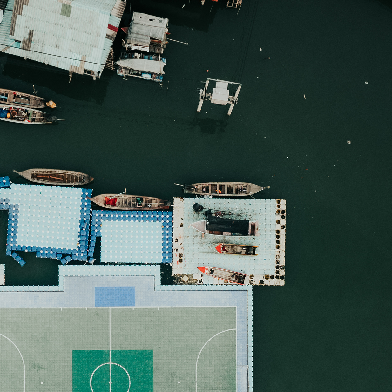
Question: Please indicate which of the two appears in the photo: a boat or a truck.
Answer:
boat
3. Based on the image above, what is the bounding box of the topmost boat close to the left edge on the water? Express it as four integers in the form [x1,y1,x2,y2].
[0,87,48,108]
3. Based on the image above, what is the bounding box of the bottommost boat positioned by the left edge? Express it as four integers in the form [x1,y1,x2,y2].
[12,168,93,185]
